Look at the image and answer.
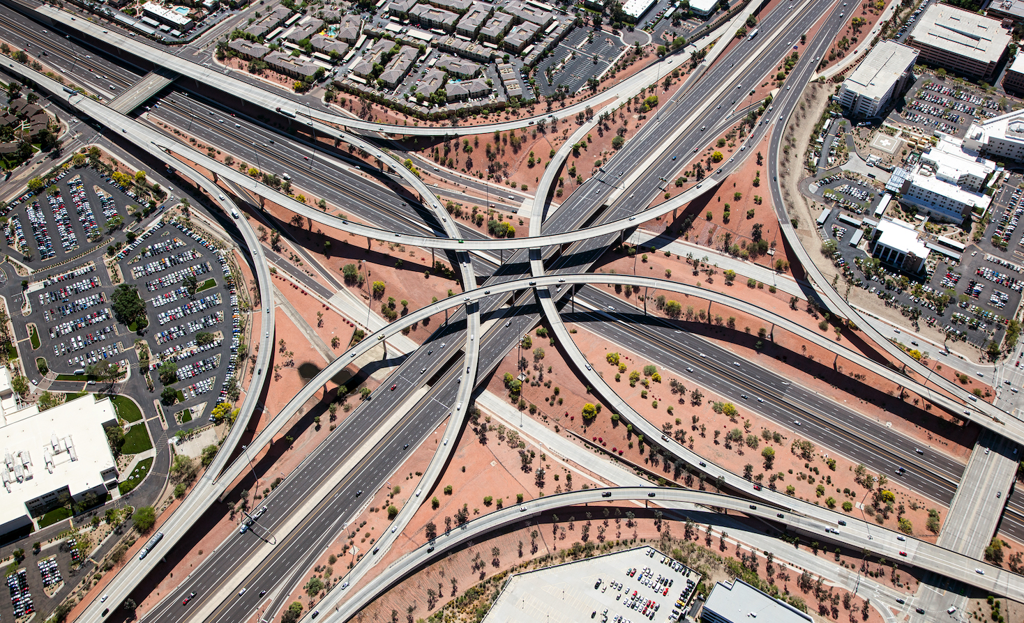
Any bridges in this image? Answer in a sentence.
Yes, there is a bridge in the image.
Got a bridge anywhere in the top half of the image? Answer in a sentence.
Yes, the scene does show a bridge in the top half of the image.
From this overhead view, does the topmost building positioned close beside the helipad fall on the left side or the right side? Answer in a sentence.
The topmost building positioned close beside the helipad is on the right side of the image.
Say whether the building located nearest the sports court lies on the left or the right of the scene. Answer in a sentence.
It is on the left.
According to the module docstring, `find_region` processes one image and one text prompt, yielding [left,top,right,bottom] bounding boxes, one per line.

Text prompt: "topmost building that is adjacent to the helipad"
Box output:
[837,38,921,119]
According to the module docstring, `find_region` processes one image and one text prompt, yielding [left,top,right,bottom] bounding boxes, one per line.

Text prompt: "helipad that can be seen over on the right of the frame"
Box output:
[869,132,902,155]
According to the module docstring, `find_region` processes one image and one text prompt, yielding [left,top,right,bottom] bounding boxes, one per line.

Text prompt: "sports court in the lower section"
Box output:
[173,428,219,461]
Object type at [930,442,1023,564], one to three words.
bridge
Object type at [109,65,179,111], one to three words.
bridge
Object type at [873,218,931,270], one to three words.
building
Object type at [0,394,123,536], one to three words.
building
